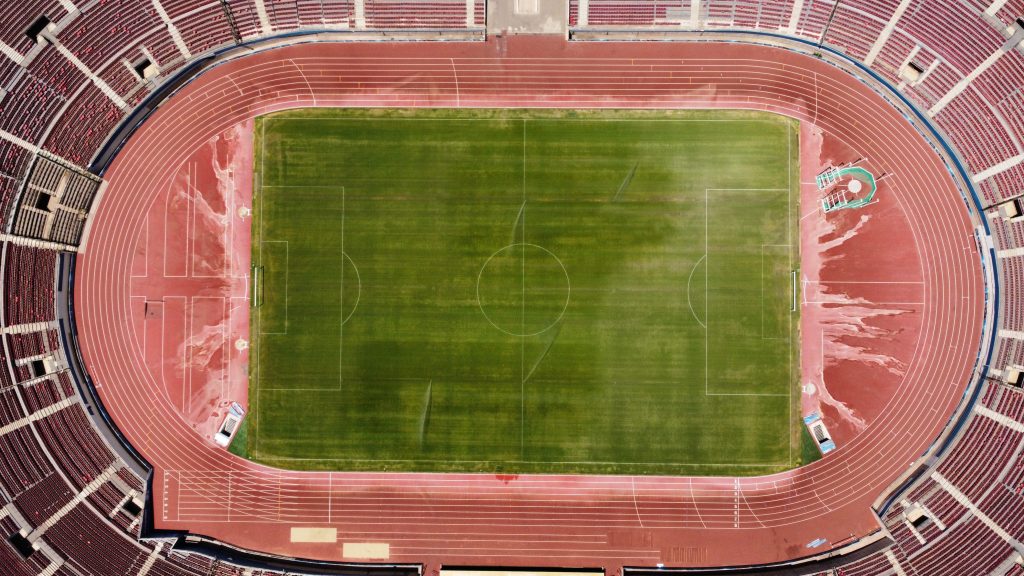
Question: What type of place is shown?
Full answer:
What you see here is a sports ground.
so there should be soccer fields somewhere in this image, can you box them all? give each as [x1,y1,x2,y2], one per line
[228,107,823,477]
